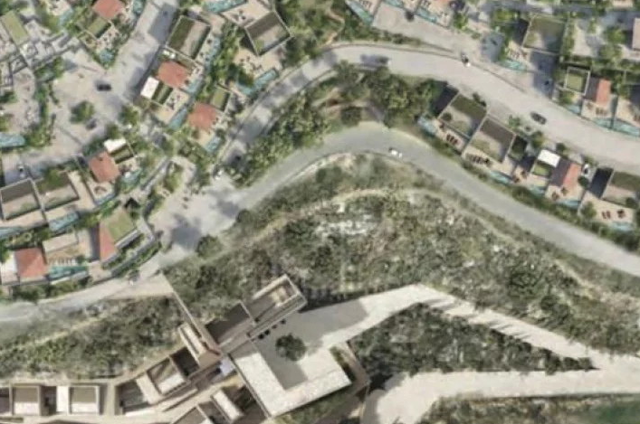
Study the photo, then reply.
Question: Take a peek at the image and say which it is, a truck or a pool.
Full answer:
The image shows a pool.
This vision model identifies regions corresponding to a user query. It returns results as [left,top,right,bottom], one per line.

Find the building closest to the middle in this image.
[243,276,307,337]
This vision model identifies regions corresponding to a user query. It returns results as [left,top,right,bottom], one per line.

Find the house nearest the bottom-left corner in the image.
[13,385,40,414]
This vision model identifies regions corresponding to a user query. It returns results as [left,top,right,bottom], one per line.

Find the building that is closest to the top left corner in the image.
[1,10,29,45]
